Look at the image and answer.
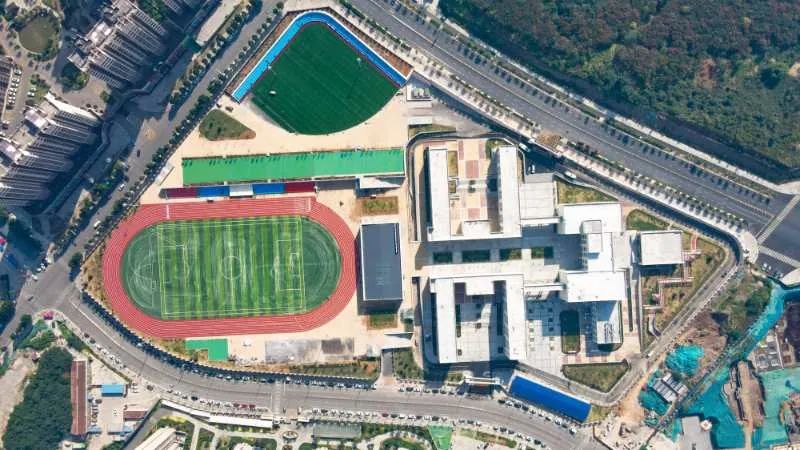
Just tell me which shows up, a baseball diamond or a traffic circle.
baseball diamond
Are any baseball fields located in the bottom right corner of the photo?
No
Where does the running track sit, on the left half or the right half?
left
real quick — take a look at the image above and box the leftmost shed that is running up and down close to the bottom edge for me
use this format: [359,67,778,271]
[71,359,92,436]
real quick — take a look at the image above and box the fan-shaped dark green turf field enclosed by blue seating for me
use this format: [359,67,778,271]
[246,22,398,135]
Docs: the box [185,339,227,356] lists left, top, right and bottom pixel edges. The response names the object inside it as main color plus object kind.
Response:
green sports court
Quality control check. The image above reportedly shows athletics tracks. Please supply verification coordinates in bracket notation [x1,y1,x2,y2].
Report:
[103,196,357,338]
